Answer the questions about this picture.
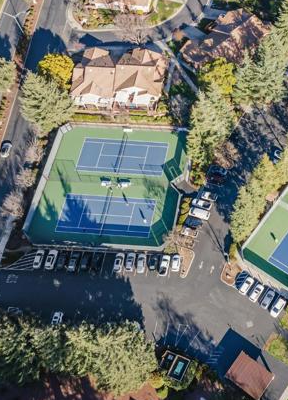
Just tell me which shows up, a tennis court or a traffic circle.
tennis court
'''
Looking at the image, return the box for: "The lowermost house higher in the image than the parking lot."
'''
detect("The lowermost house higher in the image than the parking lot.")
[70,46,167,109]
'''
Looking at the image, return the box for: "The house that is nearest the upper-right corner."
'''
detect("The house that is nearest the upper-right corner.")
[170,7,268,75]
